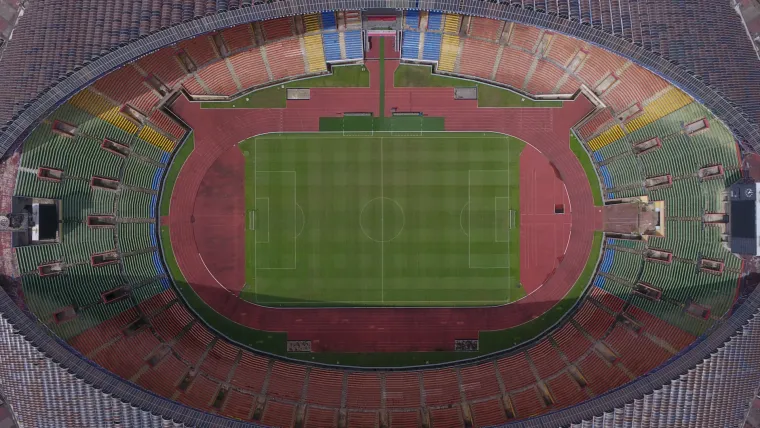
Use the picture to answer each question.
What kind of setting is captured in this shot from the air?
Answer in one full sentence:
It's a sports ground.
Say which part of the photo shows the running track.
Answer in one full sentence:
The running track sits in the center section of the image.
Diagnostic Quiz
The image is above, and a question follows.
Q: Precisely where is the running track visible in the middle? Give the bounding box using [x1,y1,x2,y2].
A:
[161,34,605,352]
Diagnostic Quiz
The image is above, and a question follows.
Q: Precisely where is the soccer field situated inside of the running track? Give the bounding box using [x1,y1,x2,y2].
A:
[238,133,526,307]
